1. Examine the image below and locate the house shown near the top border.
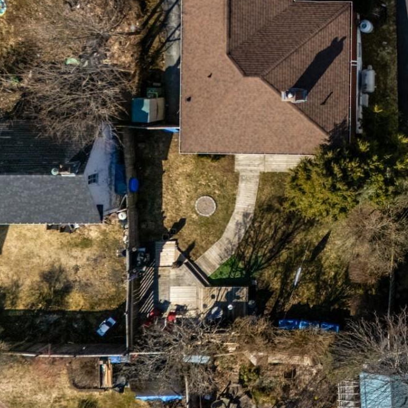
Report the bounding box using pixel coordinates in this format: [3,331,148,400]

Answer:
[179,0,362,155]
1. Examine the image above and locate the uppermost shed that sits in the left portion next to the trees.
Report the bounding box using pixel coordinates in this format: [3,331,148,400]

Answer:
[132,98,175,122]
